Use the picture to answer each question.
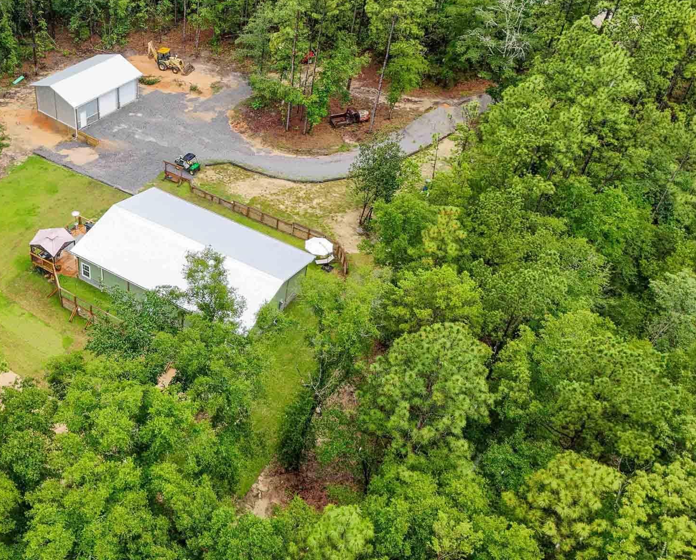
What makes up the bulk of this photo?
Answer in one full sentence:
What you mostly see from above here is trees.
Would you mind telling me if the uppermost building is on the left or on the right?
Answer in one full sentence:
The uppermost building sits on the left side.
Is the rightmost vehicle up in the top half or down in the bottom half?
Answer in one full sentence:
Seen from above, the rightmost vehicle lies in the top half of the view.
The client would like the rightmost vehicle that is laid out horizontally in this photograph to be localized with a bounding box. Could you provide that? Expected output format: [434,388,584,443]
[328,109,372,129]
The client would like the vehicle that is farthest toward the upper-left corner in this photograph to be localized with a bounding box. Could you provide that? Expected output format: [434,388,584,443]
[141,41,197,81]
